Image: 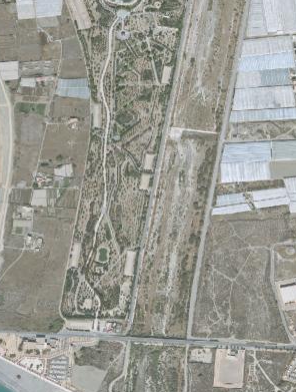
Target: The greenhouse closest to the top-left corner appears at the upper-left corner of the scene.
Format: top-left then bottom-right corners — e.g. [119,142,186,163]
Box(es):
[15,0,36,19]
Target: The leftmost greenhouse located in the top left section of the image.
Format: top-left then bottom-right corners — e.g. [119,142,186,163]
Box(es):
[0,62,18,81]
